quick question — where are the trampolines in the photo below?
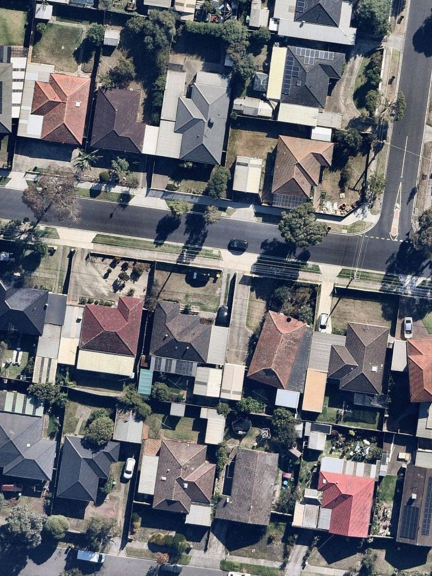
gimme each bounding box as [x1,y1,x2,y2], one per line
[232,417,252,437]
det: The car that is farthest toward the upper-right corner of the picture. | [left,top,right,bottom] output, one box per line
[227,237,251,249]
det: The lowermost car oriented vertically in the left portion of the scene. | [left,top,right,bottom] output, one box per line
[123,457,136,481]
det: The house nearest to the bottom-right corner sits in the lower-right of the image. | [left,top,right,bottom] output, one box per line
[397,466,432,546]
